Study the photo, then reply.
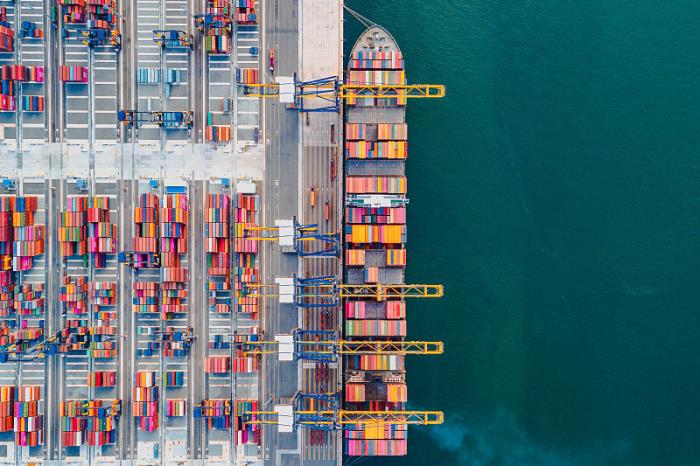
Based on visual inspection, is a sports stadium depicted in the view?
No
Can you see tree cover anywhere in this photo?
No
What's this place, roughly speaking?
port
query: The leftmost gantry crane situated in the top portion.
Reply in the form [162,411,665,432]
[77,27,123,50]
